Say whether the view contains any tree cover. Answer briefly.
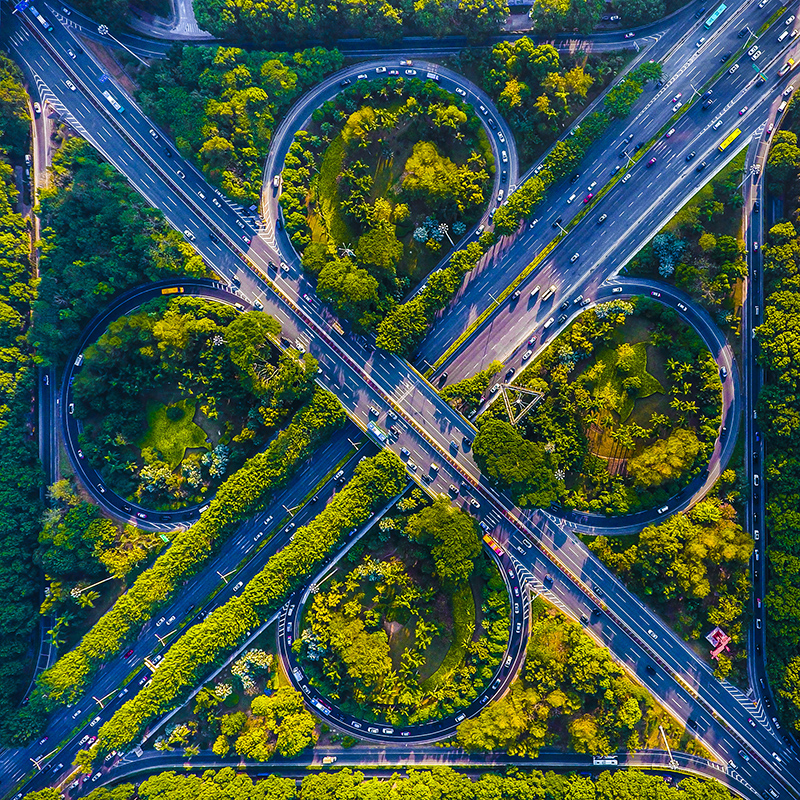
Yes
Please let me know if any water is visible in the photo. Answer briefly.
No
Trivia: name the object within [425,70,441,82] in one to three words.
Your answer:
vehicle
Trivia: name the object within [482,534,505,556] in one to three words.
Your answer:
bus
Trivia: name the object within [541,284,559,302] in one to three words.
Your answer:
vehicle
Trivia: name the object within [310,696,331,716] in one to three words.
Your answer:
bus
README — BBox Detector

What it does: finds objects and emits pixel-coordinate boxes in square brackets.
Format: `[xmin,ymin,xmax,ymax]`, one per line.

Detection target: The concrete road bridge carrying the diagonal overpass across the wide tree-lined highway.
[305,312,482,500]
